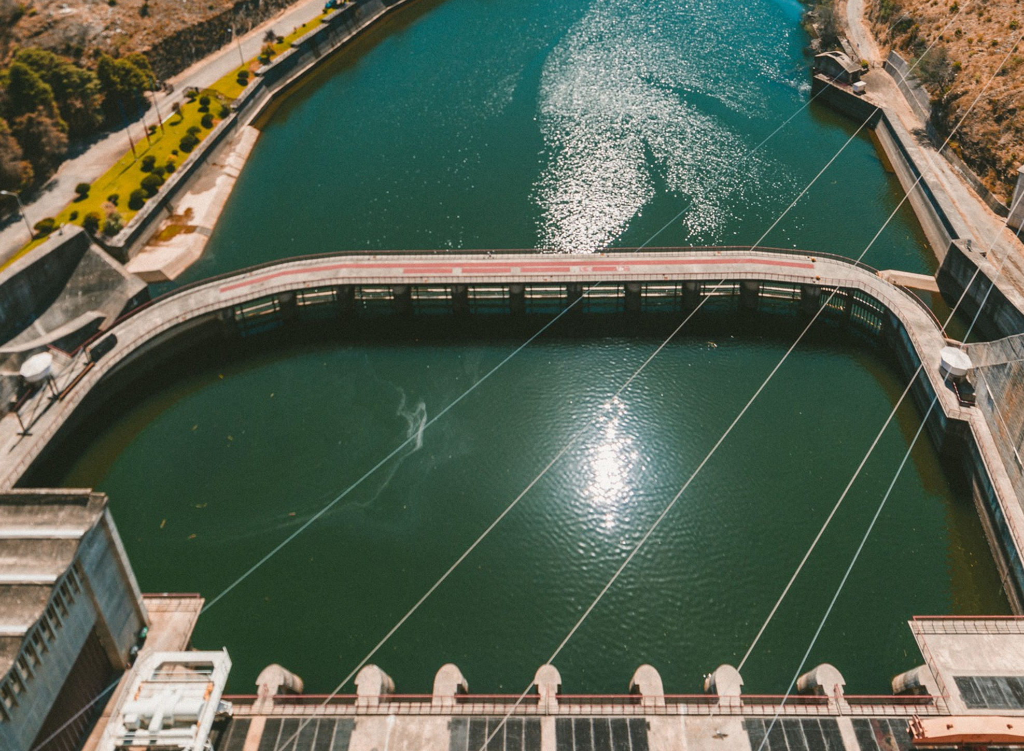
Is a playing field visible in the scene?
No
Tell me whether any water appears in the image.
Yes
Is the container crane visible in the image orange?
No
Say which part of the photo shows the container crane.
bottom left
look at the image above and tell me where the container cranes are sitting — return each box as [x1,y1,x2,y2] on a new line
[112,649,247,751]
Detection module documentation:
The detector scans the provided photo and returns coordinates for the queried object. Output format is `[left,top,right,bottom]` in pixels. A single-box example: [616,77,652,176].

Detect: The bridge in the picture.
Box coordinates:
[0,251,948,491]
